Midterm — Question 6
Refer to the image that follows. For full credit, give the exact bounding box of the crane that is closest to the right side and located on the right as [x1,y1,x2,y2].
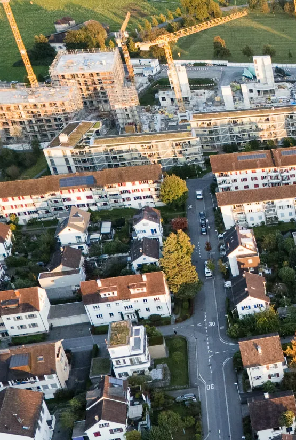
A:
[134,9,248,116]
